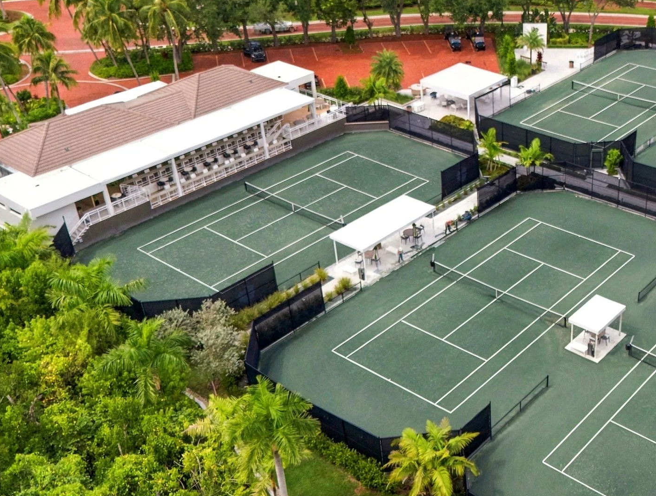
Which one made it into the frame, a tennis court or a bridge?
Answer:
tennis court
